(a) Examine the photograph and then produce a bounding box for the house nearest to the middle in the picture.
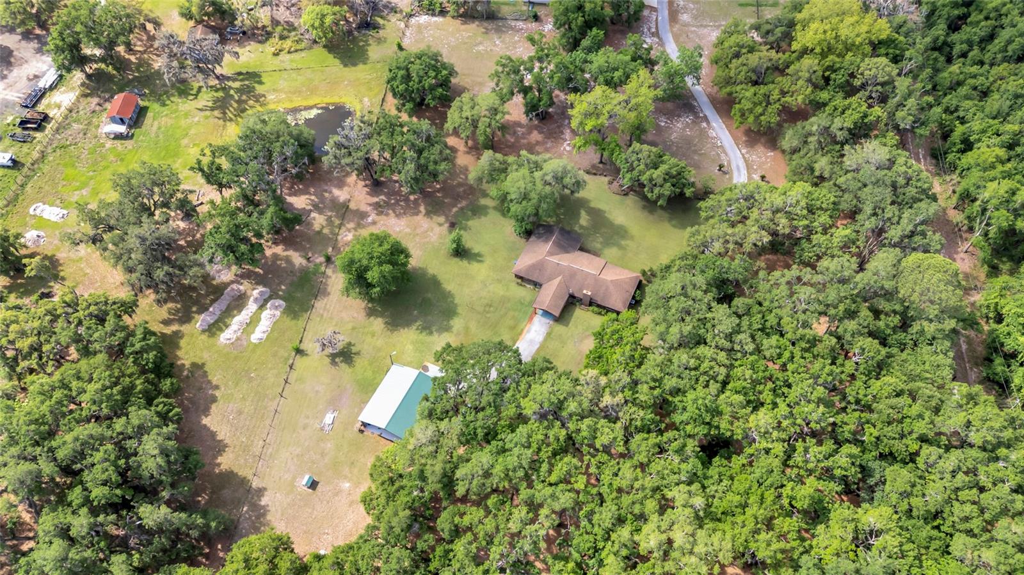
[511,225,641,324]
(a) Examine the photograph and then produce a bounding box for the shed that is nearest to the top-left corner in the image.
[104,90,143,132]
